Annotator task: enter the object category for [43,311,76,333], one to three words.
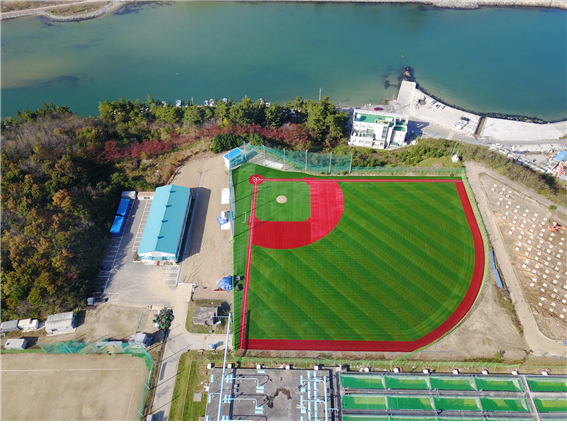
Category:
shed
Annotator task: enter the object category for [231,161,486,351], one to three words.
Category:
baseball field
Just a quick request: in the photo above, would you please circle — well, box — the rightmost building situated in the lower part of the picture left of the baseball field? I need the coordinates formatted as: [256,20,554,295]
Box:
[194,308,218,326]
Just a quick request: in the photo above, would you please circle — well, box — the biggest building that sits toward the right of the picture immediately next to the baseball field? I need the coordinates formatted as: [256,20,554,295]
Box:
[349,108,405,149]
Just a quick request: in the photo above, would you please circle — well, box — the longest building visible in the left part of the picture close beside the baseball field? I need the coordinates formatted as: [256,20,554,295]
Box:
[136,184,193,266]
